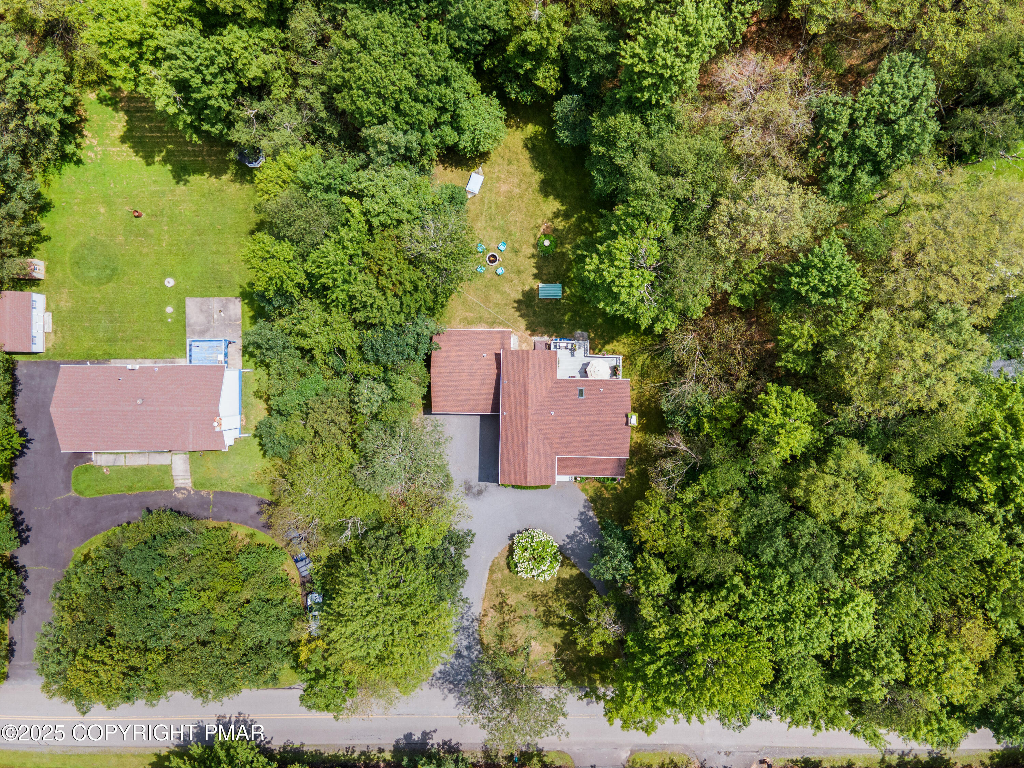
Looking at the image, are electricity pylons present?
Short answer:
No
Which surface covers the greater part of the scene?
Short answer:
trees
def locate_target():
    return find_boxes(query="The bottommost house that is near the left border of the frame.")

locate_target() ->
[49,360,253,461]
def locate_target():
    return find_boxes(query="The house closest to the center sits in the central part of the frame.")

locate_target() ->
[431,328,637,486]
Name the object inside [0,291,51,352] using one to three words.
shed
